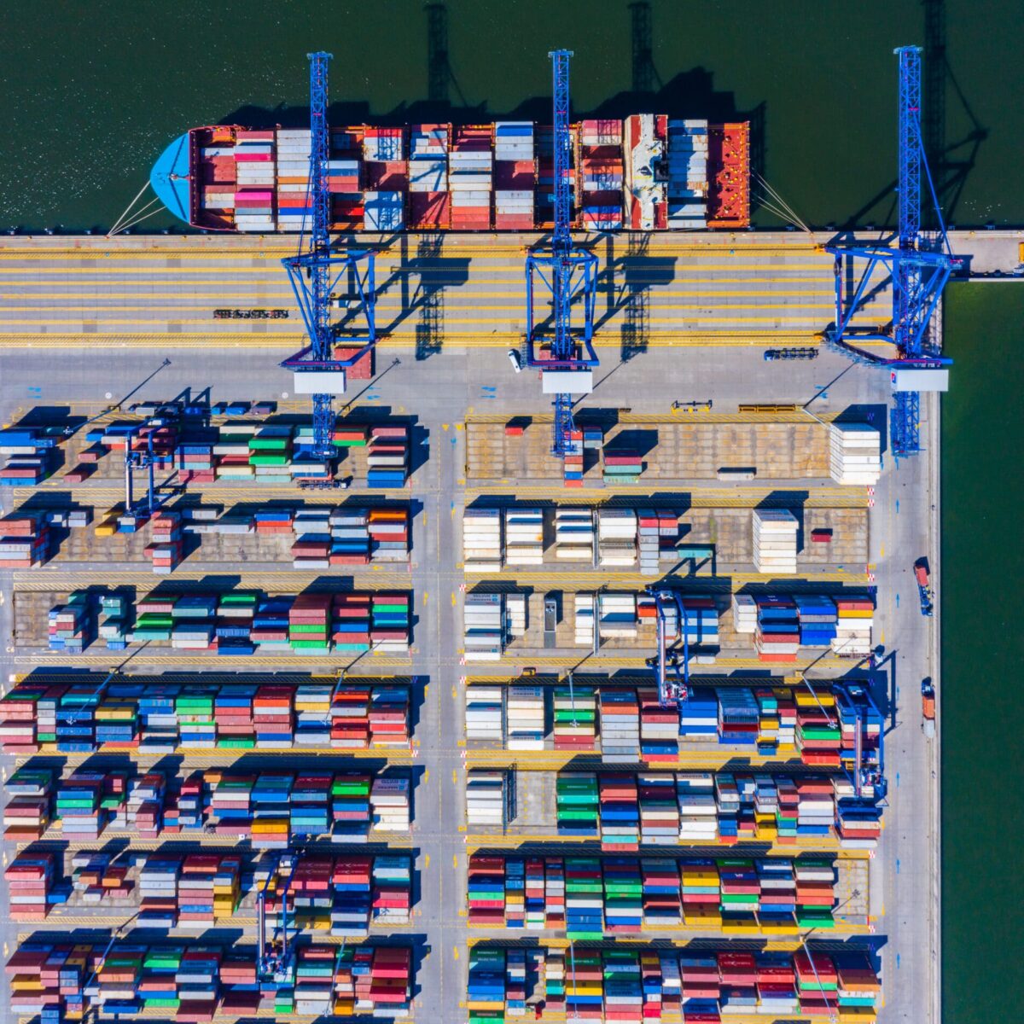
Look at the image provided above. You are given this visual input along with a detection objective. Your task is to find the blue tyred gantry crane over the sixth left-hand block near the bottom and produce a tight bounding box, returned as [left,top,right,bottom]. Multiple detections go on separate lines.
[255,845,309,980]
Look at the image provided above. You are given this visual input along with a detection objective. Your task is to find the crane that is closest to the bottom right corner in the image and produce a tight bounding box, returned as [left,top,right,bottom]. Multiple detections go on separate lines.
[829,679,887,801]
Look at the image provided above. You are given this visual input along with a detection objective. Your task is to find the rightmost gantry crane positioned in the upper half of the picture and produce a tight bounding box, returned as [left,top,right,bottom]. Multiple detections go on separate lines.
[819,46,963,458]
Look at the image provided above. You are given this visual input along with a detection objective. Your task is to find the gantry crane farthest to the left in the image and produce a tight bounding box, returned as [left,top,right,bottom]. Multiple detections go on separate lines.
[121,416,186,517]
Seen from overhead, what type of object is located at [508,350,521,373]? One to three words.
vehicle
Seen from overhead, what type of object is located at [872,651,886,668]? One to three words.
vehicle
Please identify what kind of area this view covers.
port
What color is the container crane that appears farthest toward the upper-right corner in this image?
blue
